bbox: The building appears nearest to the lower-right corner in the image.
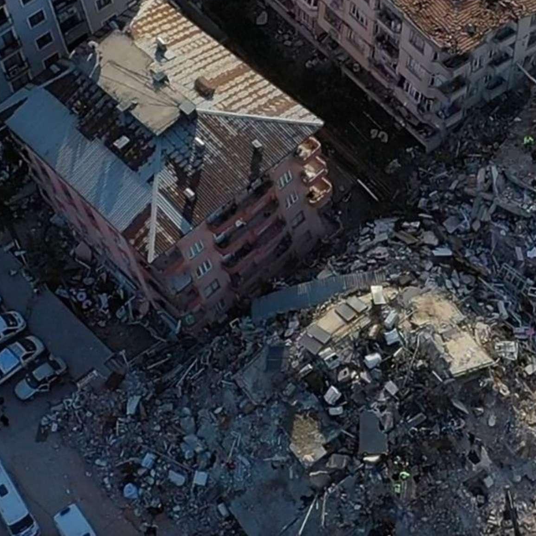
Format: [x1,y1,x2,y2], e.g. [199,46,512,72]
[394,366,458,426]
